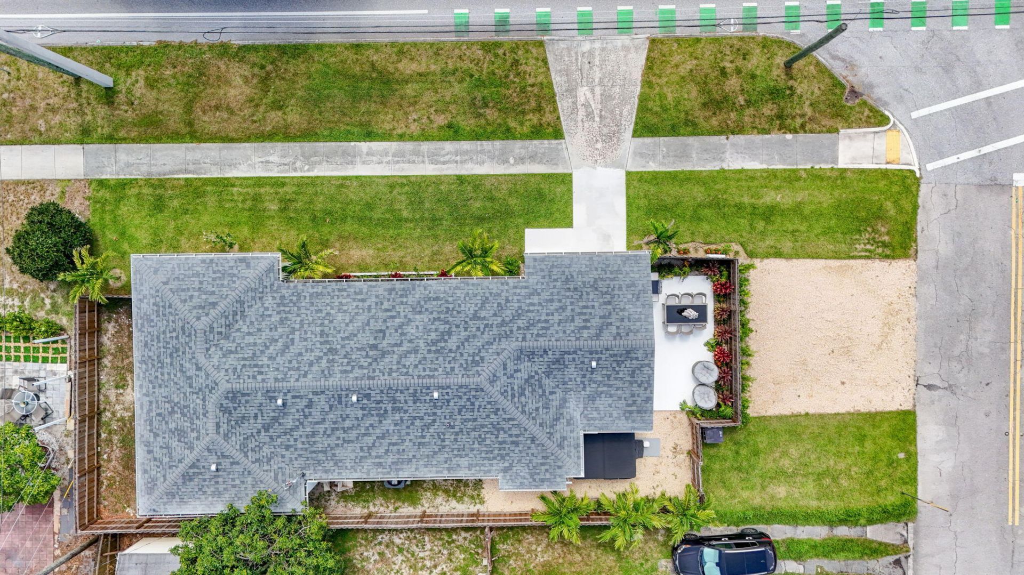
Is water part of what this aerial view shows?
No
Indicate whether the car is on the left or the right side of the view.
right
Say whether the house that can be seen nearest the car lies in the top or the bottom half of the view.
bottom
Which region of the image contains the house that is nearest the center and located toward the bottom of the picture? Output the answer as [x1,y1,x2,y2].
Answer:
[130,250,656,517]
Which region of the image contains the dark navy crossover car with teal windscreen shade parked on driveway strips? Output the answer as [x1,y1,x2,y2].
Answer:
[669,531,774,575]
